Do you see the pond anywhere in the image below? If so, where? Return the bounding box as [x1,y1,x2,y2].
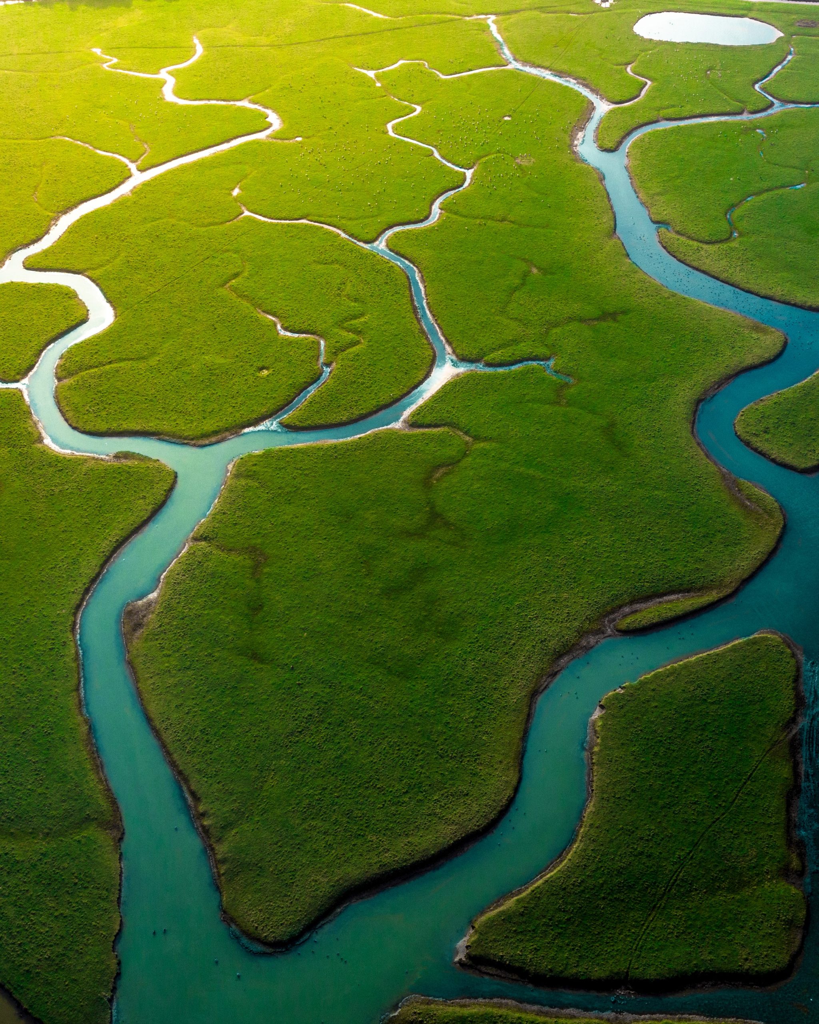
[634,12,794,51]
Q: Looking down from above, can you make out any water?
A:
Yes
